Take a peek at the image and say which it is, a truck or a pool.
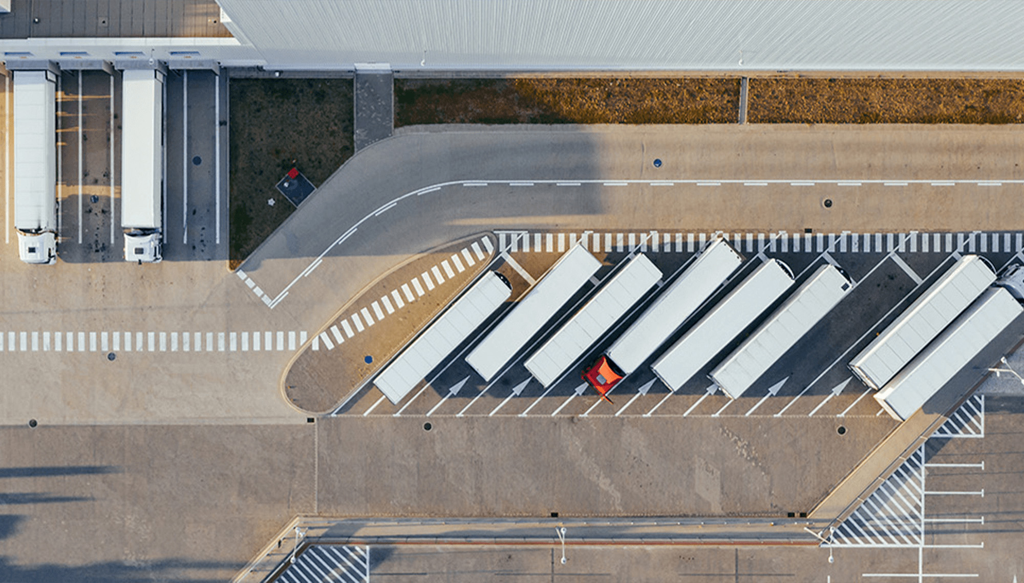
truck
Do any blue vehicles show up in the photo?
No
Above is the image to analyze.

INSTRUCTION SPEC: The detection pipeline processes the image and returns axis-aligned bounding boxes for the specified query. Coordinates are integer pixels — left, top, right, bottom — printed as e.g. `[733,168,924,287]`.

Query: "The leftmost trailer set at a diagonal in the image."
[374,270,511,404]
